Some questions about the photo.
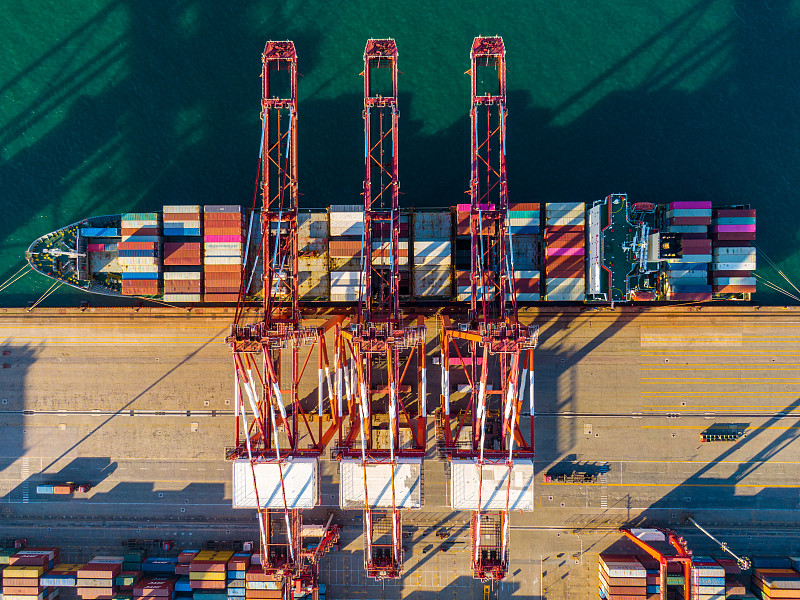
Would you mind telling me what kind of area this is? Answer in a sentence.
What you see here is a port.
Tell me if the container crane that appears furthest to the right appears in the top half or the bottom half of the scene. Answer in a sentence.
You can find the container crane that appears furthest to the right in the bottom half.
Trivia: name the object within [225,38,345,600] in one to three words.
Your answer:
container crane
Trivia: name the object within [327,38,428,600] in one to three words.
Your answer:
container crane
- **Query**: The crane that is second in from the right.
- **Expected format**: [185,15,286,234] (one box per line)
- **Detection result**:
[427,38,537,600]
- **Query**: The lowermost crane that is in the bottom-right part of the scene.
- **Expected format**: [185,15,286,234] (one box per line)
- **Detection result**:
[609,527,704,600]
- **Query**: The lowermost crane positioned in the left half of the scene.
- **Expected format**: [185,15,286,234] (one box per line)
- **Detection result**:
[277,527,347,600]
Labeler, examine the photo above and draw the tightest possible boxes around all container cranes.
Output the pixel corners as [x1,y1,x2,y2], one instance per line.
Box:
[225,38,345,600]
[609,527,704,600]
[427,38,537,600]
[277,527,347,600]
[327,38,428,600]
